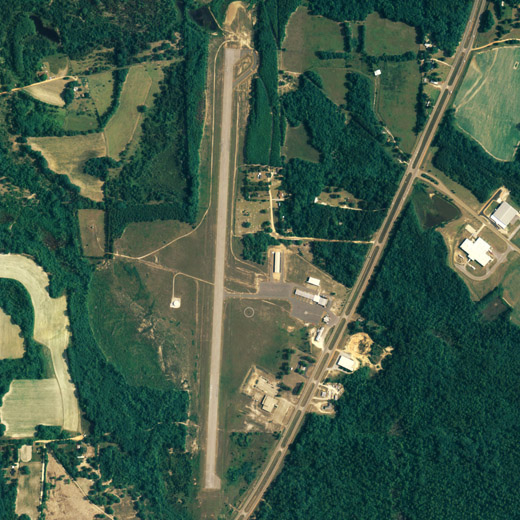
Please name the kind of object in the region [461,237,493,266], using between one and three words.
building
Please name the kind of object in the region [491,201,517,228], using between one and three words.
building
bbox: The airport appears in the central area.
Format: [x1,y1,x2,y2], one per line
[205,48,339,489]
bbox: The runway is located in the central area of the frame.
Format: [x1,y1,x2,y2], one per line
[205,48,240,489]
